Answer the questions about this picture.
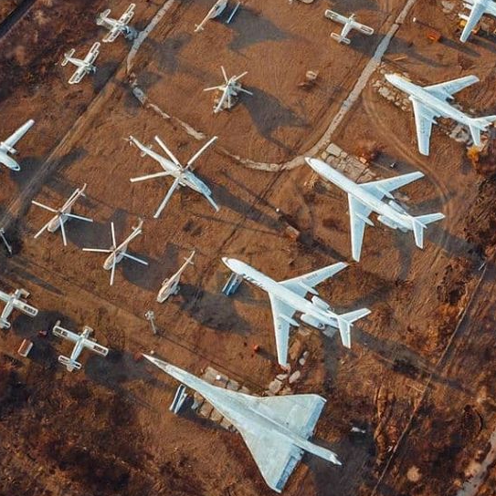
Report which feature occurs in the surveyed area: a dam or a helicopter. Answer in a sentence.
The image shows a helicopter.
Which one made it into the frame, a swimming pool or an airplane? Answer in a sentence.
The one in the frame is an airplane.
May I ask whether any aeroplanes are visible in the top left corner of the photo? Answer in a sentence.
Yes, you'll find an aeroplane in the top left corner of the photo.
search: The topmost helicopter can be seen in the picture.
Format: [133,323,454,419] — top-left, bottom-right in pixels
[198,0,233,30]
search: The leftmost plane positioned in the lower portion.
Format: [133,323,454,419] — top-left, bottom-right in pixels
[0,290,41,331]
